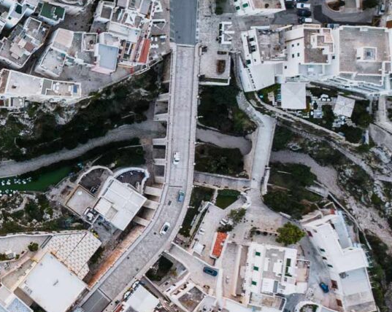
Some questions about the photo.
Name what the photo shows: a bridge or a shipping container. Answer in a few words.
bridge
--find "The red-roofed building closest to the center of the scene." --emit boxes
[206,231,229,257]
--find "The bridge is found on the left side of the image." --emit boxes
[93,45,203,301]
